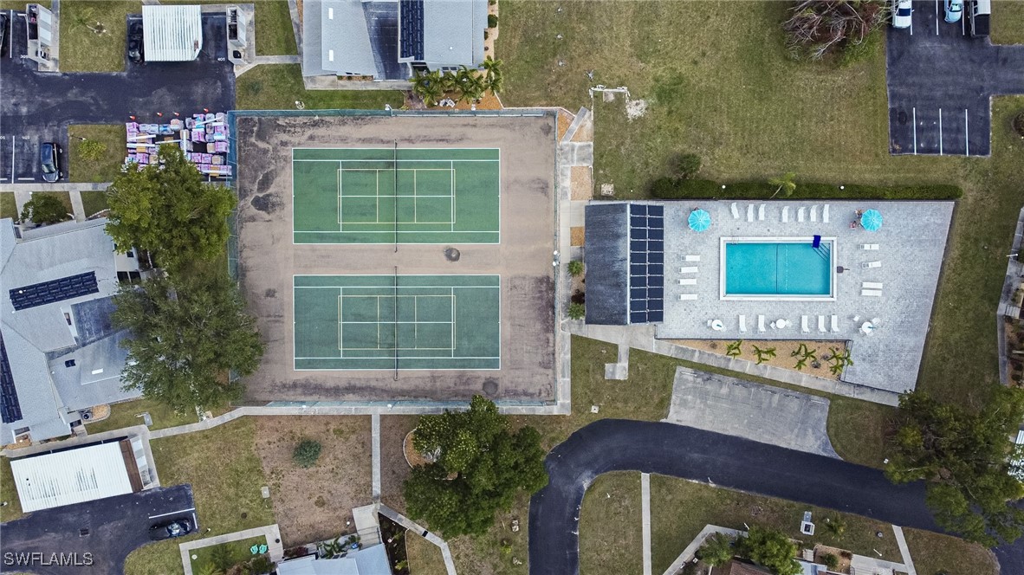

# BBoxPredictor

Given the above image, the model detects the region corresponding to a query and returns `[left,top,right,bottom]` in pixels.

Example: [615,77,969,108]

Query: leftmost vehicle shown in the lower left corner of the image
[149,518,198,541]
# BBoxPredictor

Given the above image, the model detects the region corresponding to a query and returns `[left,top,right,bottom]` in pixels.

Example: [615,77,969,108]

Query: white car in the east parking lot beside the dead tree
[889,0,911,27]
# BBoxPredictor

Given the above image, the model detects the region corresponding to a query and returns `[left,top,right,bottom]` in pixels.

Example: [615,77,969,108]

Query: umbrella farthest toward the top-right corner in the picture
[858,210,880,232]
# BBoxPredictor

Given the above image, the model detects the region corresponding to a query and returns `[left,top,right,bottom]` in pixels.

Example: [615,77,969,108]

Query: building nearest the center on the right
[585,202,664,326]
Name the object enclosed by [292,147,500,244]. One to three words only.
tennis court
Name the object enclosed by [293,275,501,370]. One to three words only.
tennis court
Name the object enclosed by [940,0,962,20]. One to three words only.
car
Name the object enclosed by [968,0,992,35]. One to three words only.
truck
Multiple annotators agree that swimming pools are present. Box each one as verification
[721,237,838,301]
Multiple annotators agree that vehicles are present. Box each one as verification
[889,0,911,27]
[149,518,198,541]
[940,0,962,20]
[126,20,145,63]
[968,0,992,35]
[36,142,60,181]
